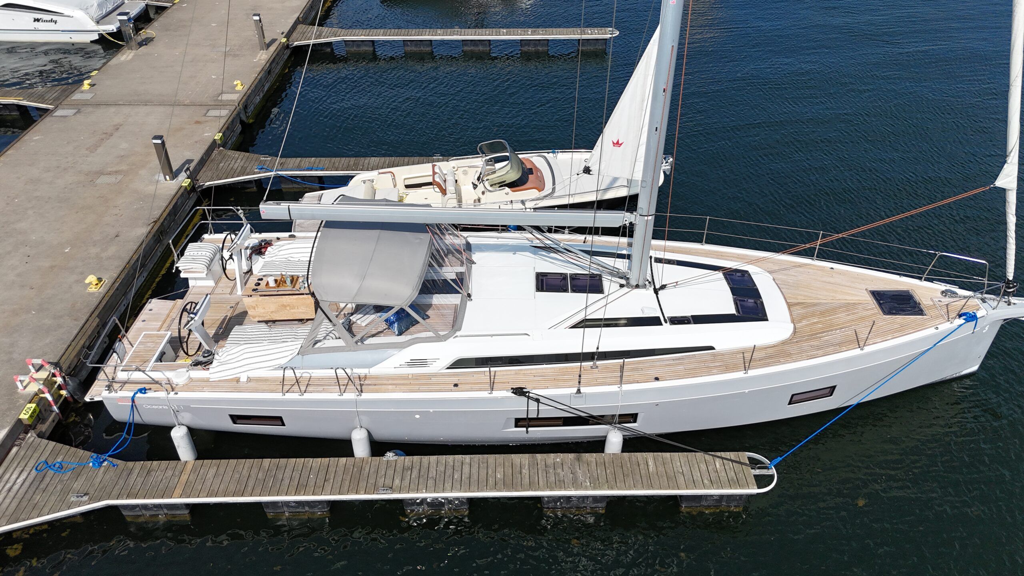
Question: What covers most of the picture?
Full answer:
The bulk of the photo consists of water.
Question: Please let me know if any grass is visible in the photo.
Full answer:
No, the scene doesn't show any grass.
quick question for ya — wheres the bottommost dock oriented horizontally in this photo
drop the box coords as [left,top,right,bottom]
[0,437,785,529]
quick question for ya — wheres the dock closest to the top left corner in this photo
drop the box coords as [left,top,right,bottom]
[0,84,82,114]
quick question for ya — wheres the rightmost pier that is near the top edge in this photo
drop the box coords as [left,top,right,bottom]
[292,23,629,49]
